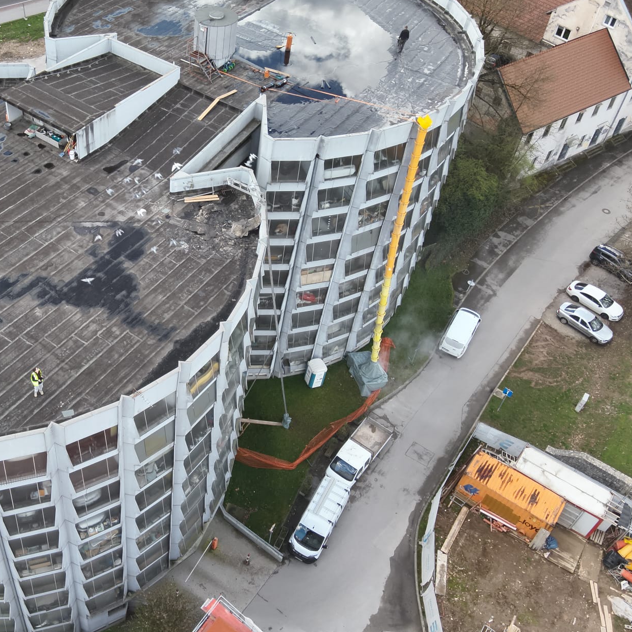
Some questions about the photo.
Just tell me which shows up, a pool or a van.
van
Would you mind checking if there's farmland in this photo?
No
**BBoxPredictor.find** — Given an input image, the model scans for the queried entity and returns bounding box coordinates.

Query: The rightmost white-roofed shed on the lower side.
[514,449,613,537]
